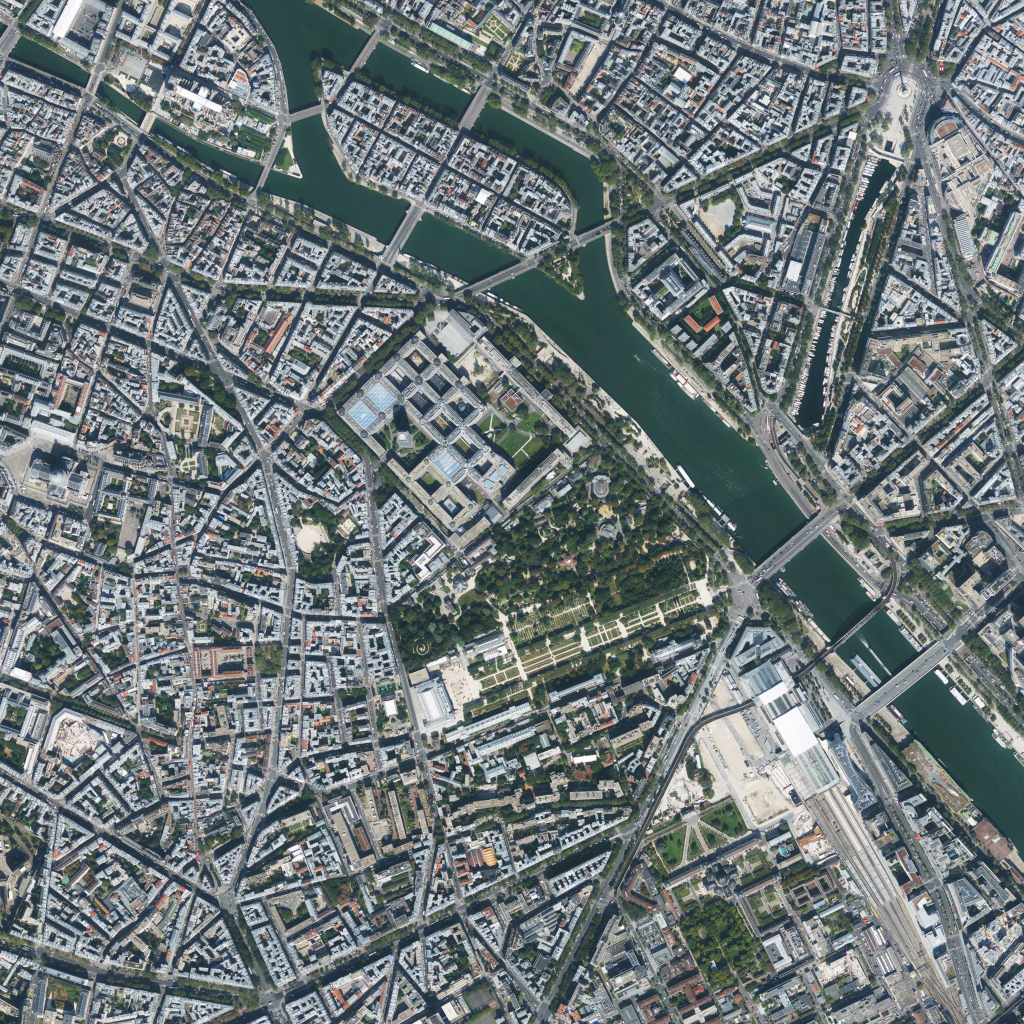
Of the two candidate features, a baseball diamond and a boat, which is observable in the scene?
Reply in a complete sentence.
Of the two, only a boat appears.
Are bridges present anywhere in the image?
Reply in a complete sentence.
Yes, you can see a bridge in this photo.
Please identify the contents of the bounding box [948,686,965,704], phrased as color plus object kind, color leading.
white boat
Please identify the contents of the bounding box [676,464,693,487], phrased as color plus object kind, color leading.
white boat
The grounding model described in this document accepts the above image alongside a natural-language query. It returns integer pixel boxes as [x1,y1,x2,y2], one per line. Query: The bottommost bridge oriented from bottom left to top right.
[618,699,755,889]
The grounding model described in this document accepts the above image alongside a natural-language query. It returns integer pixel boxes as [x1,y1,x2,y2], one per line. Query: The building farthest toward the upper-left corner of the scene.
[21,0,116,62]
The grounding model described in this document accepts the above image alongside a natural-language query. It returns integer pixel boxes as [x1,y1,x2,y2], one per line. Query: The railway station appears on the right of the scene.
[738,657,839,793]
